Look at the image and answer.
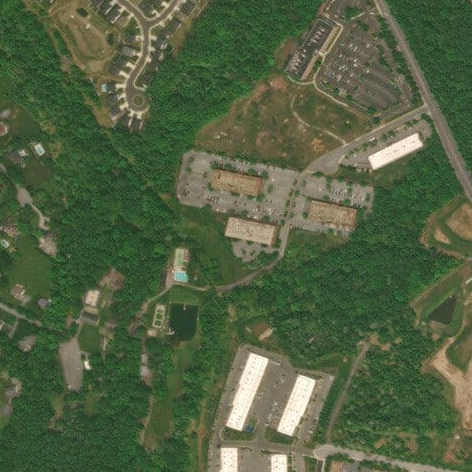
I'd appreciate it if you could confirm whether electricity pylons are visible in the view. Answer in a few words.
No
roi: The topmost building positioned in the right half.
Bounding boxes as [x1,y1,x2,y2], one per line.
[285,17,340,83]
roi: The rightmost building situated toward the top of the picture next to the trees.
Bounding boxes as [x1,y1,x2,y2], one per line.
[369,133,424,170]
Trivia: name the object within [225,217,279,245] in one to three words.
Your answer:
building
